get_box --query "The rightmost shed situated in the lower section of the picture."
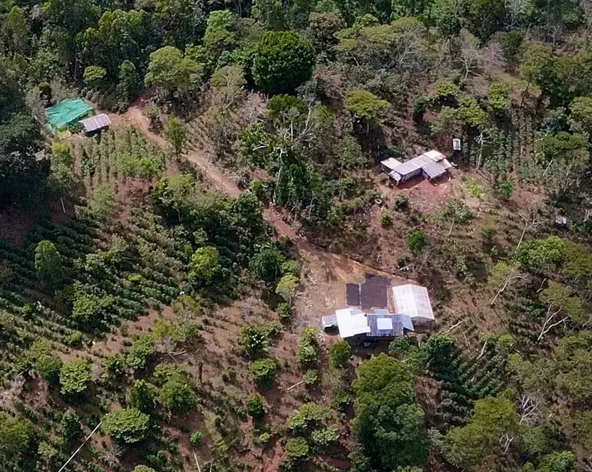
[390,285,434,332]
